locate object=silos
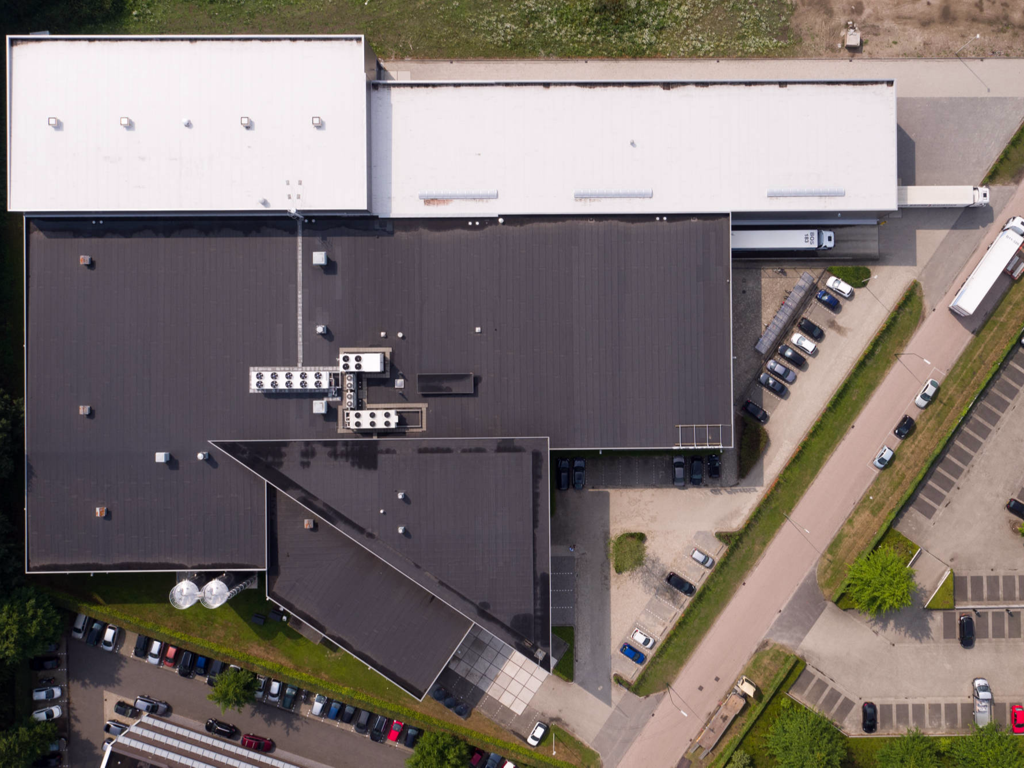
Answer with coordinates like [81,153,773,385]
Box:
[169,571,219,607]
[199,571,248,607]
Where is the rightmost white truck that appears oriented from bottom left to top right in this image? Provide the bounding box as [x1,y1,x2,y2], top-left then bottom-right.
[949,214,1024,316]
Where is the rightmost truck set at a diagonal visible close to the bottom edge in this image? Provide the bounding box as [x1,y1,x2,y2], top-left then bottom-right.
[690,674,758,758]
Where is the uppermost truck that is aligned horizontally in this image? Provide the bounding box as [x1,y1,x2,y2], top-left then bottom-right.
[897,186,989,209]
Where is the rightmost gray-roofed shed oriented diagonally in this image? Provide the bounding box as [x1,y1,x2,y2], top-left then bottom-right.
[756,272,814,354]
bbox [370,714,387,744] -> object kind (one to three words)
car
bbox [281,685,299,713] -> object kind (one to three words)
car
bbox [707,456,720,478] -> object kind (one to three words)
vehicle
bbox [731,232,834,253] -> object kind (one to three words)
truck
